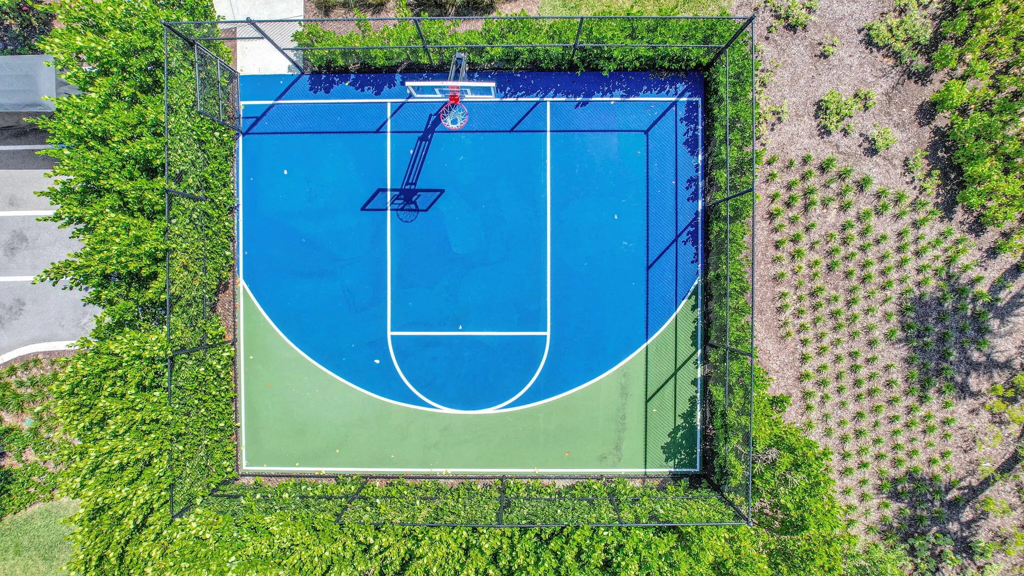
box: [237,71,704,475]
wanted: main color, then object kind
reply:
blue basketball court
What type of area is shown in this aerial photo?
sports ground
